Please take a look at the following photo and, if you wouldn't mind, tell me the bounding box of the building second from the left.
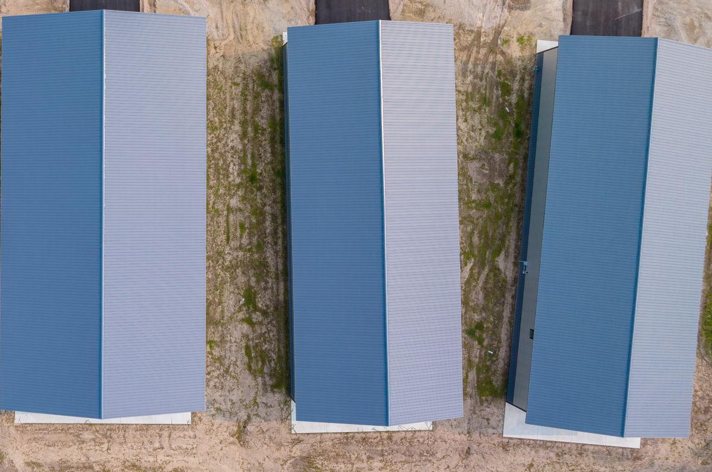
[282,19,463,434]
